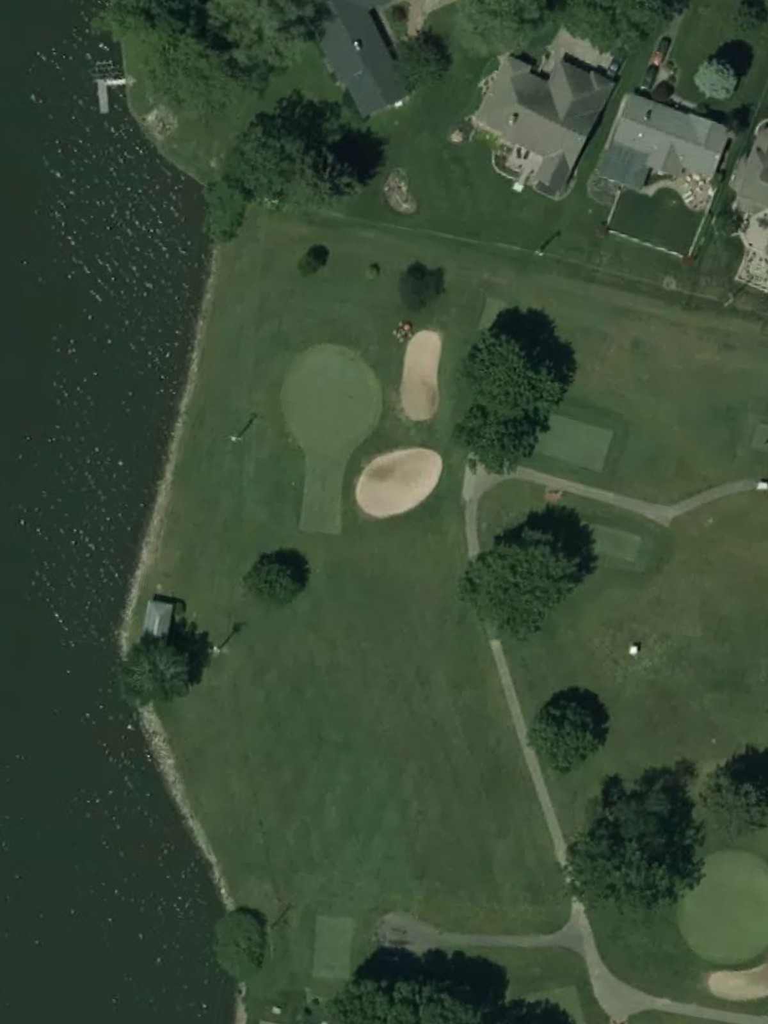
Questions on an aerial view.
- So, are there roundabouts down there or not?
No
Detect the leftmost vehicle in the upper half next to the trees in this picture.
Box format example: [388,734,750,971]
[604,53,621,80]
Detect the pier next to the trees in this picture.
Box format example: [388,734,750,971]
[97,78,136,113]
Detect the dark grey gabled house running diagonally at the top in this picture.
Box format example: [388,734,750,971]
[323,0,408,118]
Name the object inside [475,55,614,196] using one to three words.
house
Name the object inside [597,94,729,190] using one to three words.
house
